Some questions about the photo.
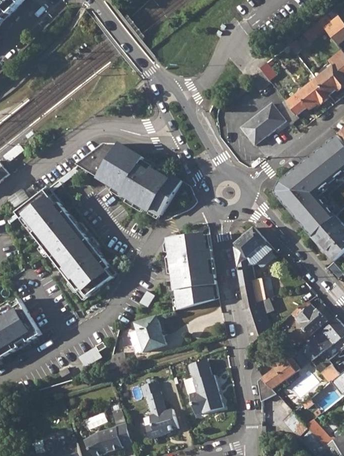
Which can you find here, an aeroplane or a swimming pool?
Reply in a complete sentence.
The one in the frame is a swimming pool.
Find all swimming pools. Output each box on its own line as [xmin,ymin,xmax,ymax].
[314,386,342,411]
[132,386,142,400]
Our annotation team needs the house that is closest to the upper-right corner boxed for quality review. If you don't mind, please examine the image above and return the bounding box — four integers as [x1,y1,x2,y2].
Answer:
[324,14,344,44]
